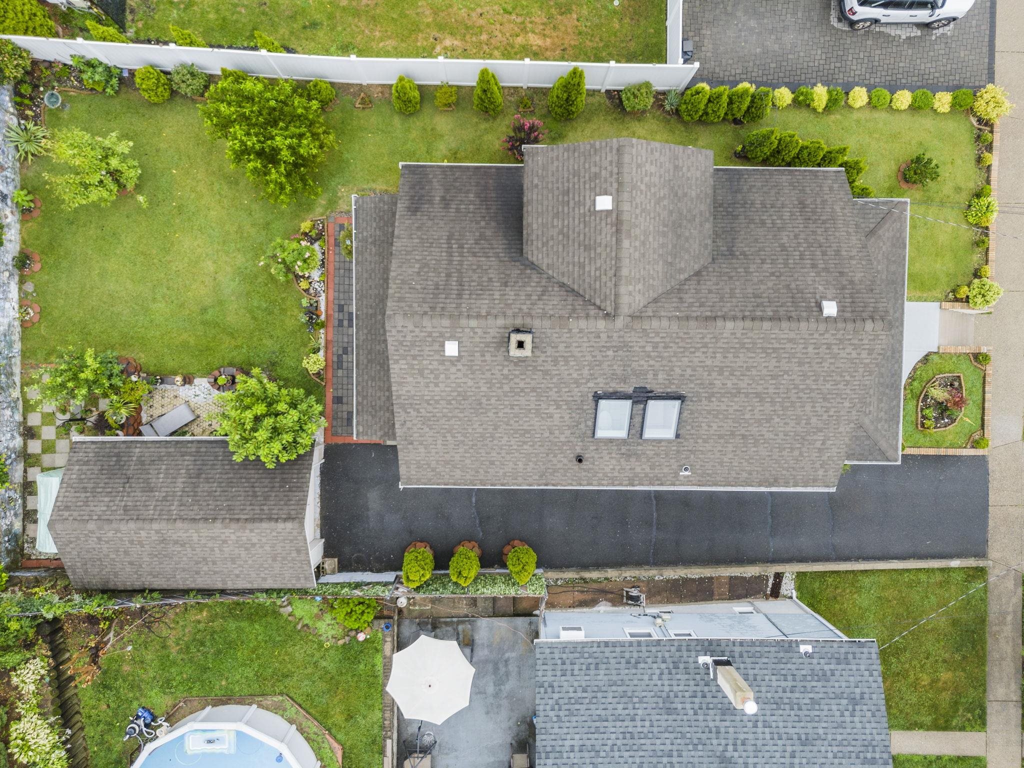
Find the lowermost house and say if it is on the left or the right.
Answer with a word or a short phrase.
right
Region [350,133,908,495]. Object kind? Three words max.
house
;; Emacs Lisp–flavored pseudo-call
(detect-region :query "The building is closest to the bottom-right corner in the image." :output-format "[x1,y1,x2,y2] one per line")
[534,604,892,768]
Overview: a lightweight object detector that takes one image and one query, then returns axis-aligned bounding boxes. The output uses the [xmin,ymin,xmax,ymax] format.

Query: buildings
[47,437,325,589]
[534,604,892,768]
[350,133,908,495]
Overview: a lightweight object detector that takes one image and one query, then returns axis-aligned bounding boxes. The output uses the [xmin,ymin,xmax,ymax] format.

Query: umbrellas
[386,635,475,751]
